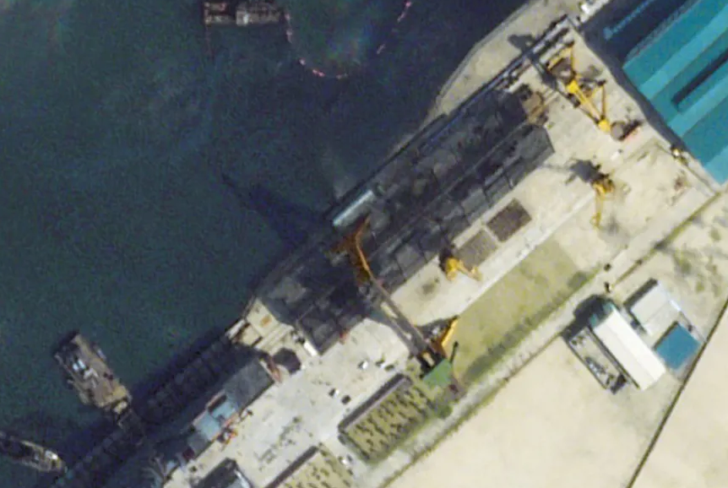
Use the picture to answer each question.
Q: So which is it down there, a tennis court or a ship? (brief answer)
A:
ship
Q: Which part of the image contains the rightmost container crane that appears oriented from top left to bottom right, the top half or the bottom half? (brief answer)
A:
top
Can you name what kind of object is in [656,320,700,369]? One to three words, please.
shed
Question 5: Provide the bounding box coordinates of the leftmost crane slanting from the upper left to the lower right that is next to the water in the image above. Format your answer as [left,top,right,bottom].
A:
[302,203,432,358]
